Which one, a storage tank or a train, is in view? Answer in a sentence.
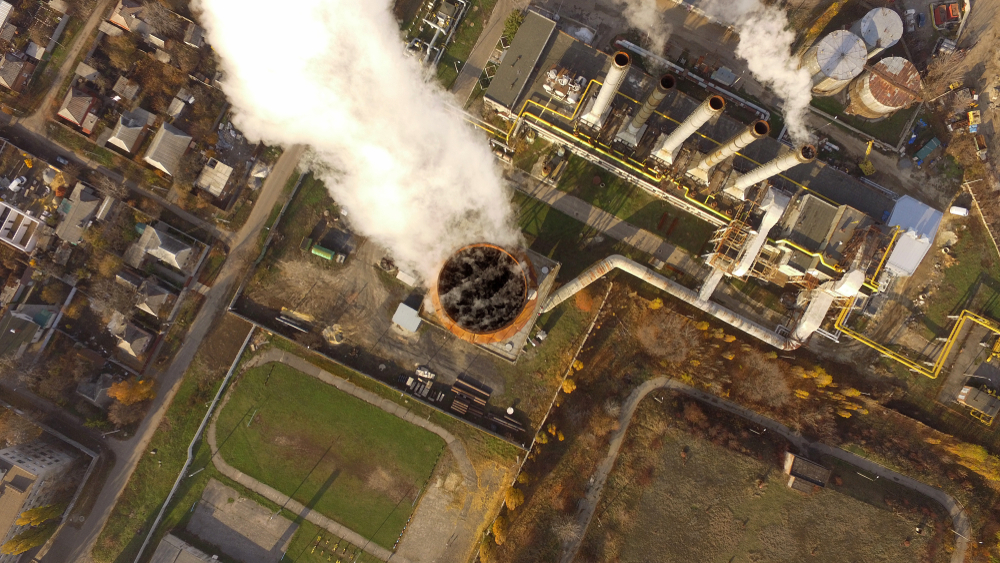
This aerial view contains a storage tank.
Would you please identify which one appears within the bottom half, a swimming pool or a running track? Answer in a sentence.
Looking within the bottom half, you will find a running track.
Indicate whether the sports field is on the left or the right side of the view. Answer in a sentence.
You can find the sports field on the left side of the picture.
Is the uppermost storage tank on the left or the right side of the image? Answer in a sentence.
The uppermost storage tank appears in the right half of the scene.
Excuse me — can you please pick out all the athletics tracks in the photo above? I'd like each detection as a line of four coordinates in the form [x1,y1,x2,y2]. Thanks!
[210,351,478,560]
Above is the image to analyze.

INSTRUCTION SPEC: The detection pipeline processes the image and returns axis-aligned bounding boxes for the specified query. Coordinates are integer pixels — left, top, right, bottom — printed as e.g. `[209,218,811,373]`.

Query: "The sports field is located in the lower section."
[219,360,443,545]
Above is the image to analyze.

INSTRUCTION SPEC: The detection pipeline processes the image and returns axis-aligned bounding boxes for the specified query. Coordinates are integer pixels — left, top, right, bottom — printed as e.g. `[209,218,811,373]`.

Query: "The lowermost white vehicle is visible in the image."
[7,176,24,190]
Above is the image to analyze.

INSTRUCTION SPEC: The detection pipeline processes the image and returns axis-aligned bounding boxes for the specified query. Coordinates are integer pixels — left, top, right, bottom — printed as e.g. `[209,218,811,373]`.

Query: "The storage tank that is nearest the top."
[847,7,904,62]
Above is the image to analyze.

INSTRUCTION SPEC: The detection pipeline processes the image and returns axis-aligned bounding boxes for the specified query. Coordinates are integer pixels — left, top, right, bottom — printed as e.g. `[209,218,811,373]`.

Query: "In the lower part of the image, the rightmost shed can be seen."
[955,386,1000,425]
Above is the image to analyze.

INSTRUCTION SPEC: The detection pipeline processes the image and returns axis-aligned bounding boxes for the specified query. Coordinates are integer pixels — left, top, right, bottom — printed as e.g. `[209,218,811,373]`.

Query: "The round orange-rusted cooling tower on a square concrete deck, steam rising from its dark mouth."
[417,219,561,361]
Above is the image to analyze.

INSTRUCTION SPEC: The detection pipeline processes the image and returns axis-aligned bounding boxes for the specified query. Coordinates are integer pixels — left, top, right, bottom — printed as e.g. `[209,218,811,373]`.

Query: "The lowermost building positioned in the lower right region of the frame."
[784,451,831,491]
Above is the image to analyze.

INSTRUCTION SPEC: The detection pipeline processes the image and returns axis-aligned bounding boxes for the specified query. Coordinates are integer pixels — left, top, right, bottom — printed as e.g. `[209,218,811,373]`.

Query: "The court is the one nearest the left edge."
[184,478,299,563]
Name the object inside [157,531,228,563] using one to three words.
building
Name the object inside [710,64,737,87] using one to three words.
shed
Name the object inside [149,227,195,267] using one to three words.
house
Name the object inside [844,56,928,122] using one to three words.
storage tank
